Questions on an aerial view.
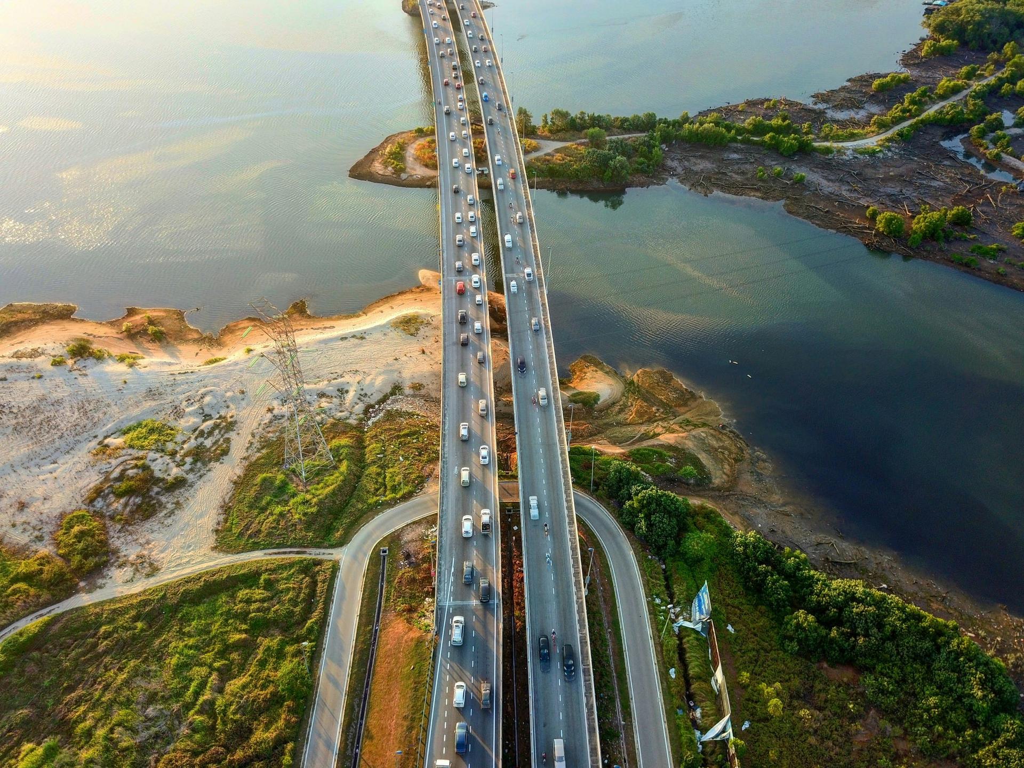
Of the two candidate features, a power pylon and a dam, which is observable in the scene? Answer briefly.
power pylon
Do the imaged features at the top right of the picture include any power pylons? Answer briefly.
No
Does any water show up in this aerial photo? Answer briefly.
Yes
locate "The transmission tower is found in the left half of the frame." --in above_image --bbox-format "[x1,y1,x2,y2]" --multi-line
[238,297,350,485]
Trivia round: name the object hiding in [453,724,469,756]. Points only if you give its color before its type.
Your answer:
blue car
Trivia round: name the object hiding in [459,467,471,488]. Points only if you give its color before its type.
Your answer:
white vehicle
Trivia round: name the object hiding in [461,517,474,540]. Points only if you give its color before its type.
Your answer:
white vehicle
